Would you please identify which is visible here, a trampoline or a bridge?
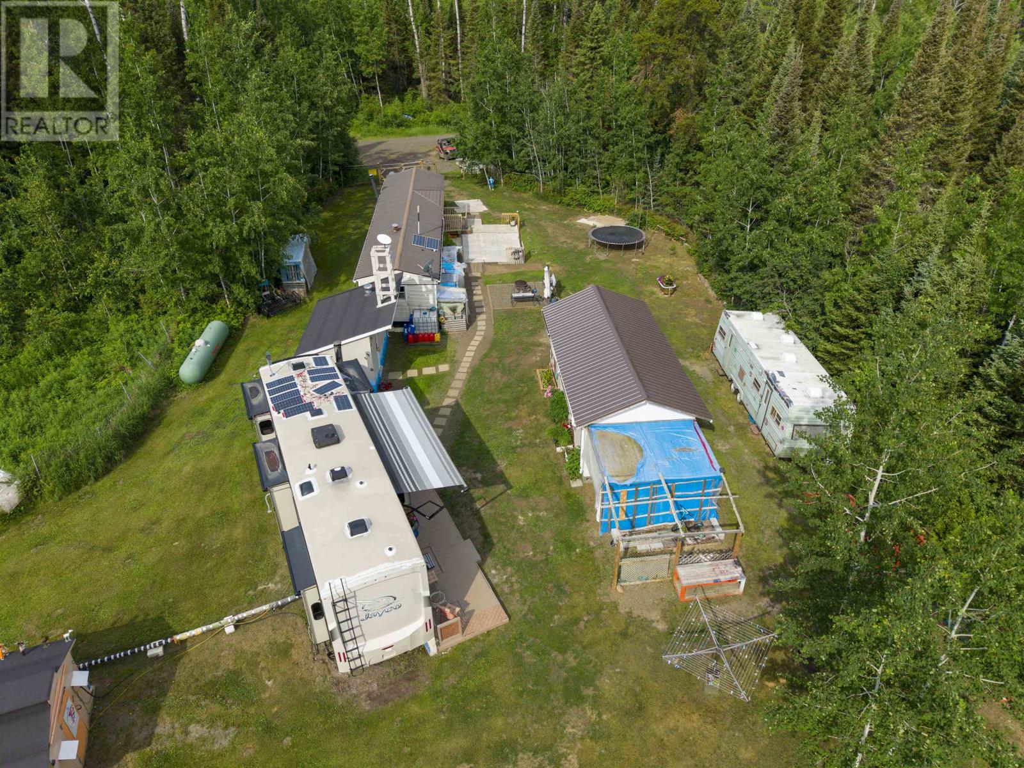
trampoline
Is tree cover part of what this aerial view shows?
Yes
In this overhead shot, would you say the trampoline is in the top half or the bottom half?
top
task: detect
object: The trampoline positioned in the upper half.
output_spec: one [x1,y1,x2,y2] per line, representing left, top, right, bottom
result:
[587,227,647,264]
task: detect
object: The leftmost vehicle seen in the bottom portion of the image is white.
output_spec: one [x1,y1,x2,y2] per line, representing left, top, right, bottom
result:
[240,342,469,682]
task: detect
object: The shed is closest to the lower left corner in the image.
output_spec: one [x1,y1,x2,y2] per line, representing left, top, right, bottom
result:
[0,638,94,768]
